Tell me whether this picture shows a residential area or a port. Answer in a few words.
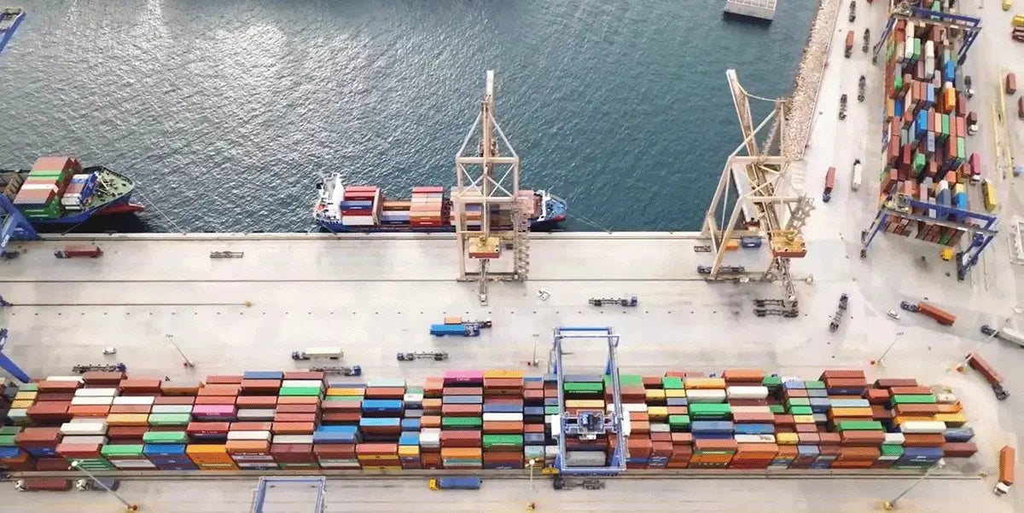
port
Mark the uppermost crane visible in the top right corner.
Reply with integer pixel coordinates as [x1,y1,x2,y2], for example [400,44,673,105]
[878,6,984,80]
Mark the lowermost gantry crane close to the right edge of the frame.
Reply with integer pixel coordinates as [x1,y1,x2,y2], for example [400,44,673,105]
[861,204,994,287]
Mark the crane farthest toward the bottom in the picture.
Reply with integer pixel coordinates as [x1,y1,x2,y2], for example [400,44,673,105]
[244,469,326,513]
